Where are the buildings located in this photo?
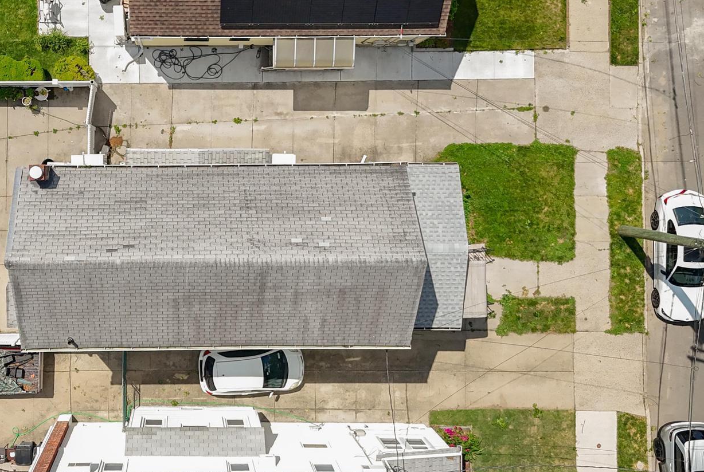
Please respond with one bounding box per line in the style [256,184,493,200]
[0,407,467,472]
[2,149,503,359]
[126,0,453,79]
